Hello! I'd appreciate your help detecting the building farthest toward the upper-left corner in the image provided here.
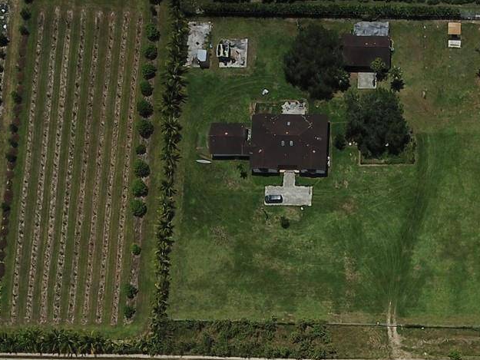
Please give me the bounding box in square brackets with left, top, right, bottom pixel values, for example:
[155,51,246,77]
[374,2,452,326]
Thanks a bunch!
[209,124,247,158]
